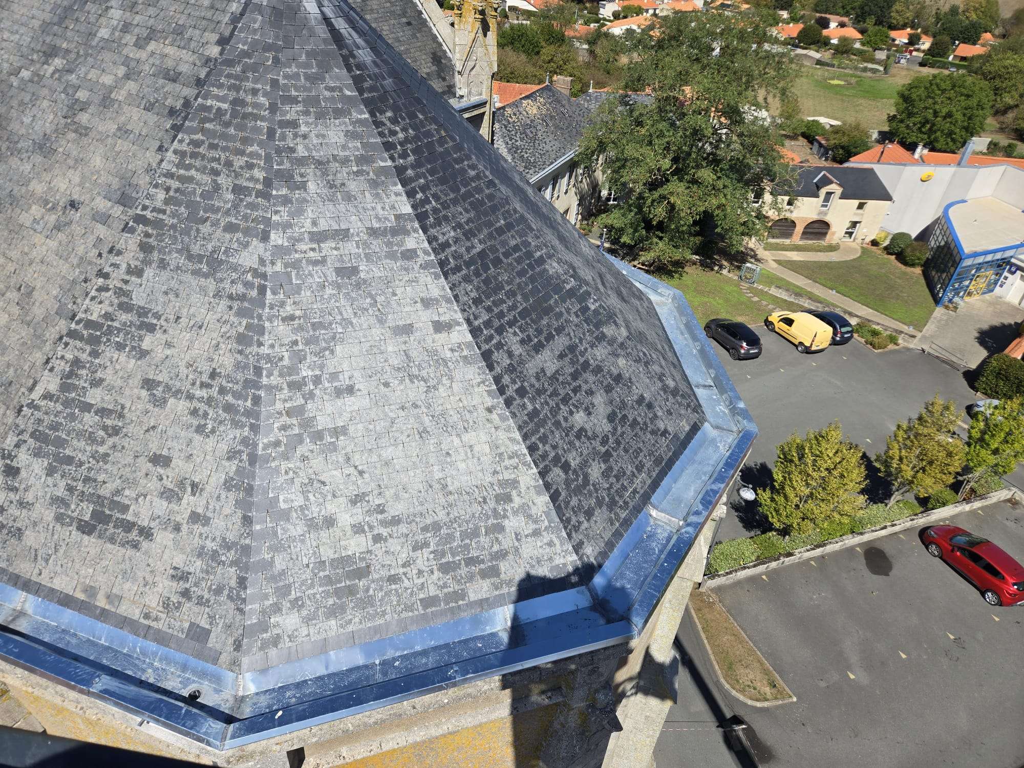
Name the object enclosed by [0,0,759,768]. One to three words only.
church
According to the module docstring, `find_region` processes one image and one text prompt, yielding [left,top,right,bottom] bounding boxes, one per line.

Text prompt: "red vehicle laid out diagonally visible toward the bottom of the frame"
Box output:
[923,521,1024,608]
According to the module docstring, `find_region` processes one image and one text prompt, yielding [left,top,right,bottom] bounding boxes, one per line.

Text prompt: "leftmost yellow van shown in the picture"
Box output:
[765,310,832,354]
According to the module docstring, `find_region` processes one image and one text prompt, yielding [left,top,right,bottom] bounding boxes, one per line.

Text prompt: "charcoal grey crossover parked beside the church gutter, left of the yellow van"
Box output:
[705,316,764,360]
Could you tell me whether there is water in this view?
No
